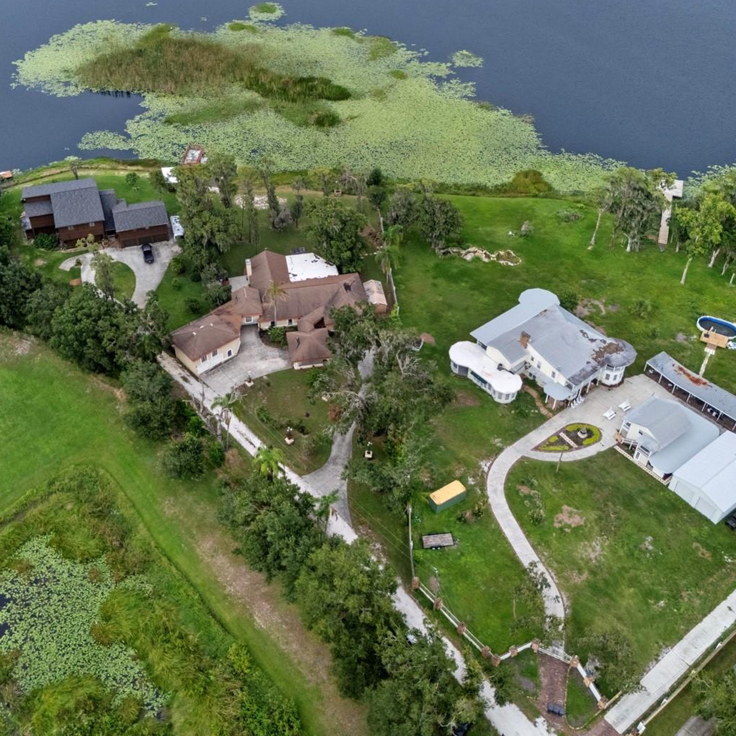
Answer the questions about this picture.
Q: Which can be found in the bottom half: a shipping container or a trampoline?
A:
shipping container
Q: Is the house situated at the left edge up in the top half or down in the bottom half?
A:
top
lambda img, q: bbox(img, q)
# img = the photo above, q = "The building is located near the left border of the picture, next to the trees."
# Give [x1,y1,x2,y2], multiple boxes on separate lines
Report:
[21,180,169,248]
